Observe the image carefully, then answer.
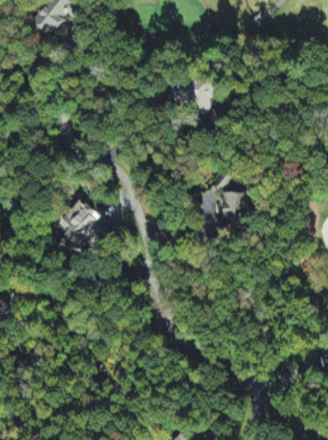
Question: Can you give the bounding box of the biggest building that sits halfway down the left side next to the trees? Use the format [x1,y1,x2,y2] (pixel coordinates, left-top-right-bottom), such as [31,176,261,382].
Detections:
[56,199,102,240]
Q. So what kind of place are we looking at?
forest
